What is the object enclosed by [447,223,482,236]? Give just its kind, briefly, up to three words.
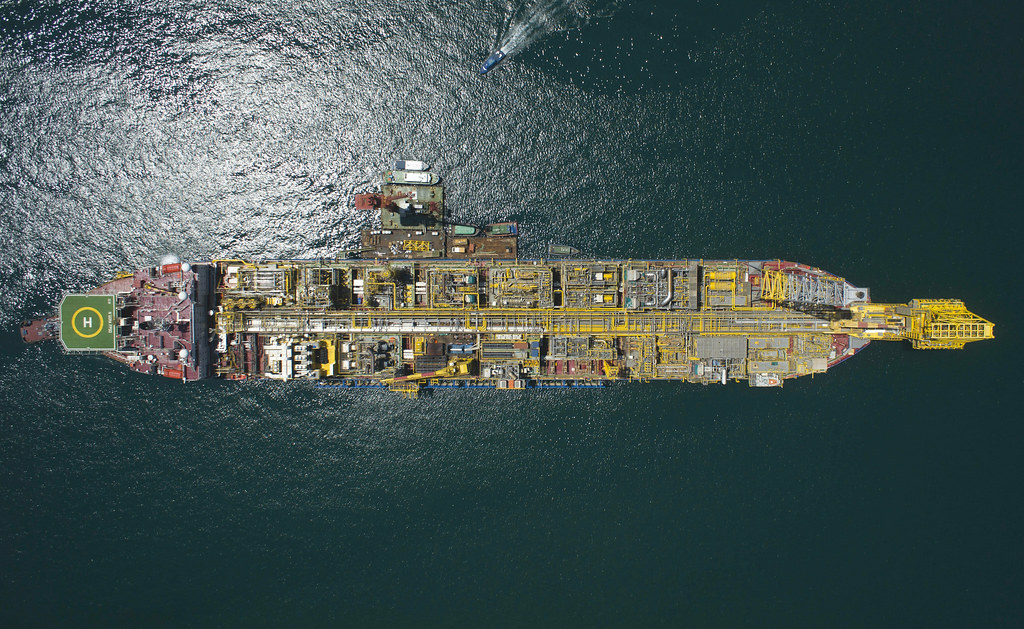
boat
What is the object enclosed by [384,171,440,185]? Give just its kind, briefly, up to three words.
boat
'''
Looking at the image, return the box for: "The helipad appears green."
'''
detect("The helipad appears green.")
[56,291,120,353]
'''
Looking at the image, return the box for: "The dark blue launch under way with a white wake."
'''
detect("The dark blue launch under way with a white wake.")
[480,48,506,74]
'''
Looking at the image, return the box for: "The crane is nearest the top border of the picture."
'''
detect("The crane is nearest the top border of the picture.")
[355,193,419,213]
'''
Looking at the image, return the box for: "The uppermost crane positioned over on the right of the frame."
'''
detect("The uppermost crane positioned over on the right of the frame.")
[826,316,912,330]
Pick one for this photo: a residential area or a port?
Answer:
port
